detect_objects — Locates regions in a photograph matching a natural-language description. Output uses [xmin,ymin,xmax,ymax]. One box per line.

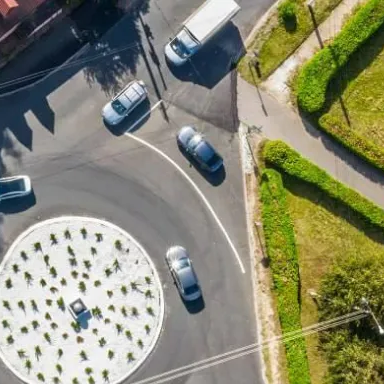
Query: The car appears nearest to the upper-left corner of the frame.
[101,79,148,125]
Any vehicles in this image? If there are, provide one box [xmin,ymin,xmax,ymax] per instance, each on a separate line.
[168,0,247,63]
[177,124,224,173]
[0,174,33,200]
[101,79,148,125]
[168,246,200,299]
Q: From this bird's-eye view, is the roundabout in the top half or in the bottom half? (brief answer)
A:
bottom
